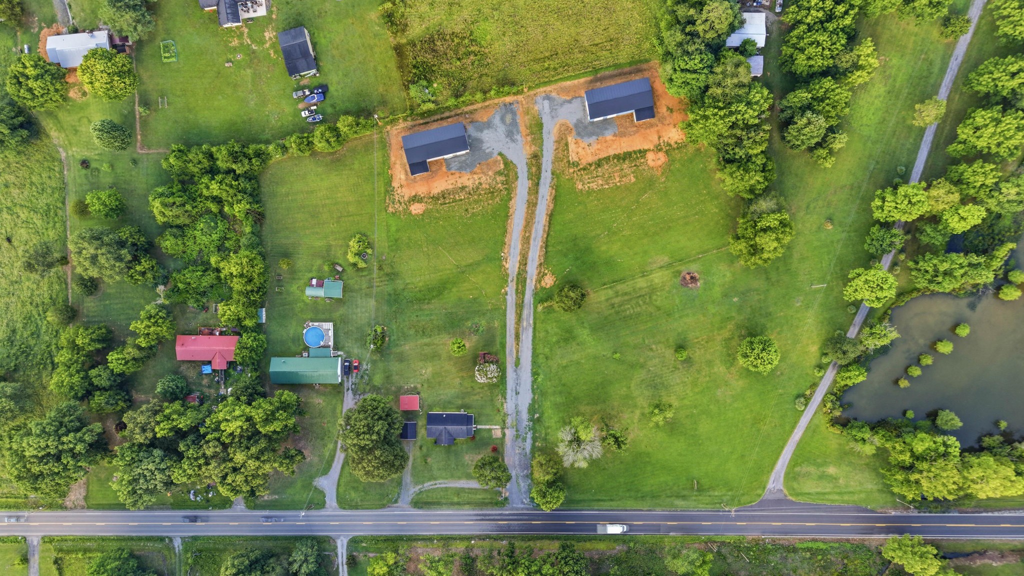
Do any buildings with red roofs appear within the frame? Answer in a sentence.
Yes, there's a building with a red roof here.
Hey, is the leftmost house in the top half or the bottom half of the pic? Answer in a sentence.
You can find the leftmost house in the top half.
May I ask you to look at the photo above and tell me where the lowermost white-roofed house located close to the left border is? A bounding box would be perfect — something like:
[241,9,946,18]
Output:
[44,28,111,71]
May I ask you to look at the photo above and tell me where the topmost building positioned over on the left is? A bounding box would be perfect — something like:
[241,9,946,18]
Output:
[196,0,256,29]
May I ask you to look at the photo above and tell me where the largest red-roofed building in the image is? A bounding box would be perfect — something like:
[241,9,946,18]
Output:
[174,335,239,370]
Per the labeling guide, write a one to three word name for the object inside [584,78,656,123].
house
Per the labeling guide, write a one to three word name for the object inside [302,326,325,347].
swimming pool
